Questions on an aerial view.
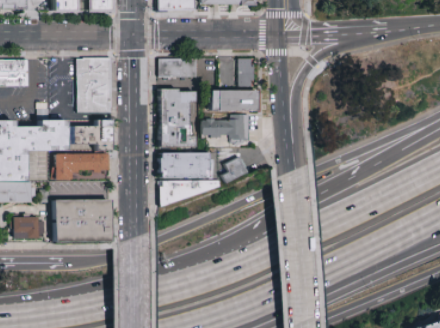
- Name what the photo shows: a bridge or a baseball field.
bridge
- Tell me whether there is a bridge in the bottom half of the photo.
Yes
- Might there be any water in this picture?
No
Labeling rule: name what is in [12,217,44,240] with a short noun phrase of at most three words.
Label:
house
